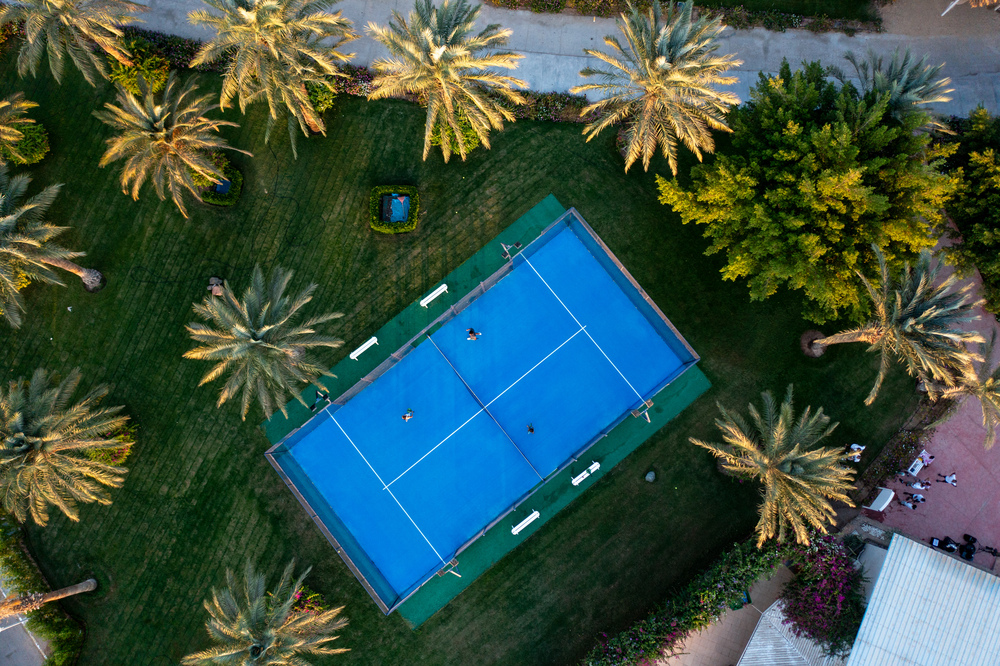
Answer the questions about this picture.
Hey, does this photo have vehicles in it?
No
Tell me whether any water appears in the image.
No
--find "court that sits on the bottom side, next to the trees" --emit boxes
[262,194,715,632]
